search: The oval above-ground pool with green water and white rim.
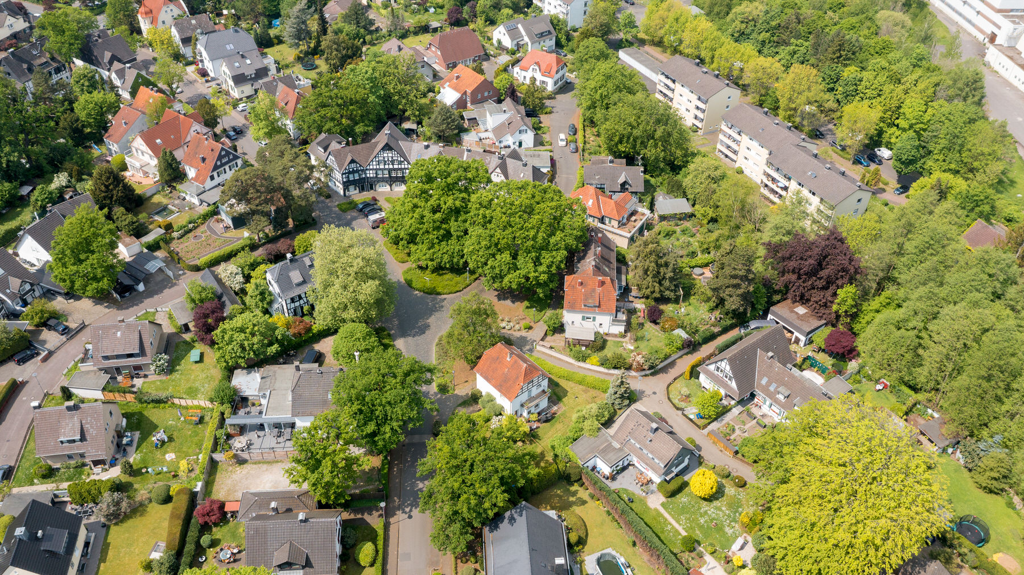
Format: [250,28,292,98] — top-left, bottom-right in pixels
[595,544,627,575]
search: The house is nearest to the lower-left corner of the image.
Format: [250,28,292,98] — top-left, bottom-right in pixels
[0,491,89,575]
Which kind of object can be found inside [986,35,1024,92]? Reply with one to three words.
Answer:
building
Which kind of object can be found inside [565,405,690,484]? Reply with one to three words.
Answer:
house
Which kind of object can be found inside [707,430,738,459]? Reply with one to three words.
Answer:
shed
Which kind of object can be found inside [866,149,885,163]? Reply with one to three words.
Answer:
car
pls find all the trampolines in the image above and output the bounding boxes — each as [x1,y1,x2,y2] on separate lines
[954,510,998,546]
[833,357,846,372]
[300,57,316,70]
